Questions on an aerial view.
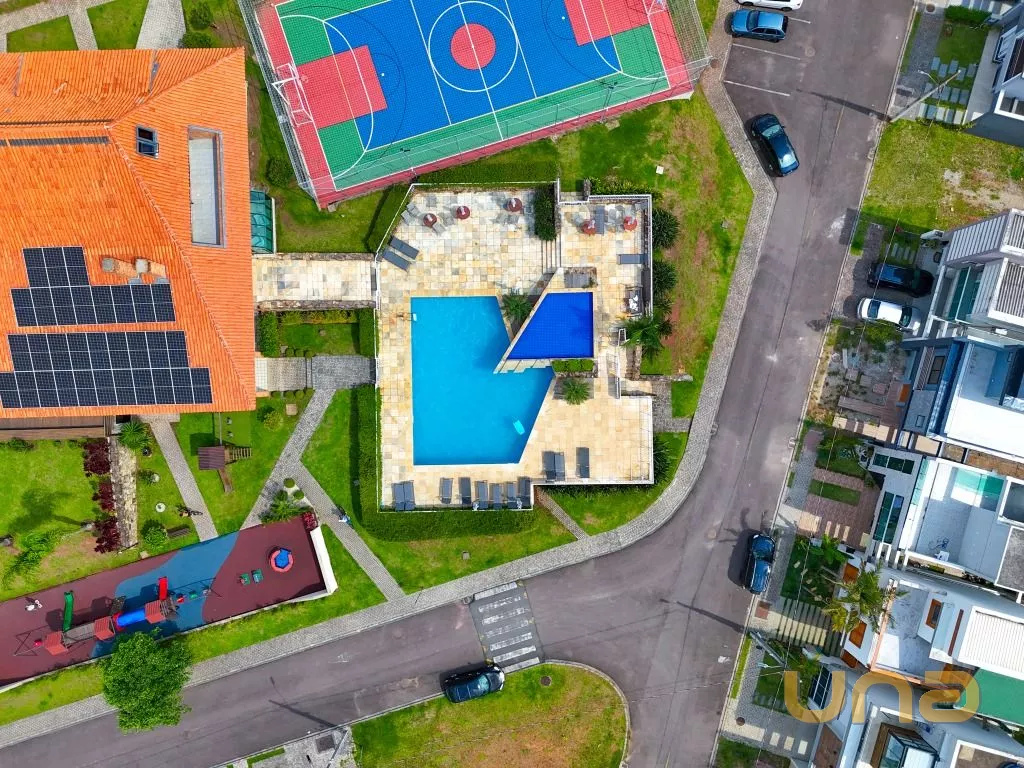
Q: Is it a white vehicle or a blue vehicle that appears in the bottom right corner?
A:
blue vehicle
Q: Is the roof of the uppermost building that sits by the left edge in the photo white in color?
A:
No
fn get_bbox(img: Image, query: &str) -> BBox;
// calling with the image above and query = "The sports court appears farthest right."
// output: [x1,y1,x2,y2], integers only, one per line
[261,0,697,207]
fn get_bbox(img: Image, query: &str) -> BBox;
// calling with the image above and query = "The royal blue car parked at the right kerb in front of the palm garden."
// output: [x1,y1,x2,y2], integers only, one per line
[735,526,774,591]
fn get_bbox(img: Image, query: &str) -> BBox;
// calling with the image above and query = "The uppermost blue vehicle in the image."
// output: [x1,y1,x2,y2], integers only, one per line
[726,3,791,42]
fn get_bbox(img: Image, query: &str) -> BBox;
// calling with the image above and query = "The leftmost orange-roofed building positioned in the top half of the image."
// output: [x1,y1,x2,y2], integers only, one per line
[0,45,256,416]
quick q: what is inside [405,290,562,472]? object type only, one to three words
swimming pool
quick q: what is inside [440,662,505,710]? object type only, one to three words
car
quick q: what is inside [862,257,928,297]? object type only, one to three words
car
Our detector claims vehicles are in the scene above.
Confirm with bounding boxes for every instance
[740,0,803,11]
[748,114,798,177]
[735,526,774,591]
[440,662,505,710]
[854,295,914,333]
[726,3,791,42]
[862,257,928,297]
